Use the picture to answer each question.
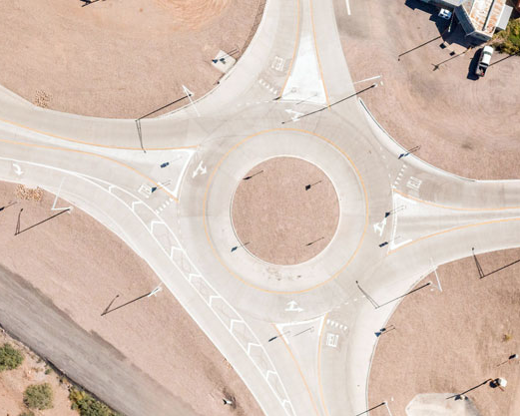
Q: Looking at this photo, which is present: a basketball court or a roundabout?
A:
roundabout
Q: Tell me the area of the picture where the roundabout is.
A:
center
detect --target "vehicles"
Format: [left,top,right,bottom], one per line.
[477,47,494,76]
[437,10,452,22]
